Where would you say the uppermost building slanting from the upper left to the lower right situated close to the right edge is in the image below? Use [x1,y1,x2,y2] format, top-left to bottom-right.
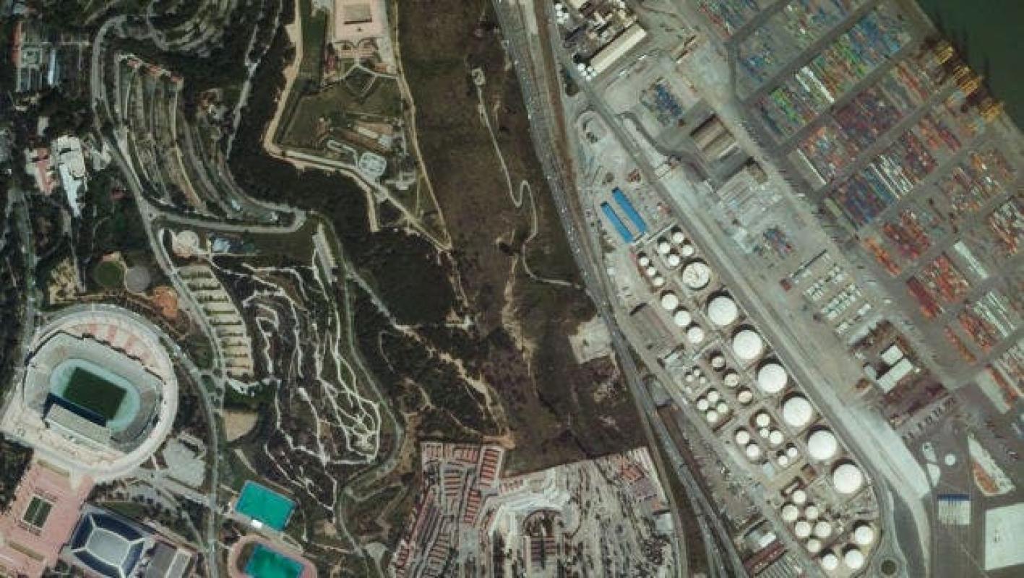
[954,242,988,280]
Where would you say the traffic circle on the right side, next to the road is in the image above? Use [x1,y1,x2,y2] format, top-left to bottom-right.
[873,552,904,578]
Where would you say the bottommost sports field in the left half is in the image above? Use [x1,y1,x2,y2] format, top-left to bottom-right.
[230,533,319,578]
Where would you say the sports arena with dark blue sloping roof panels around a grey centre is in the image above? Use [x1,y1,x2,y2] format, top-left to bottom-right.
[59,504,155,578]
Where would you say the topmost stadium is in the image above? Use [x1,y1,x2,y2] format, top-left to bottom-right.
[24,331,164,447]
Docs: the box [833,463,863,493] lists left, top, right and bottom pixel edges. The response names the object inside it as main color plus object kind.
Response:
white storage tank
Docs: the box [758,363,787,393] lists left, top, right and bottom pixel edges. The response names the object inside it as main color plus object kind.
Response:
white storage tank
